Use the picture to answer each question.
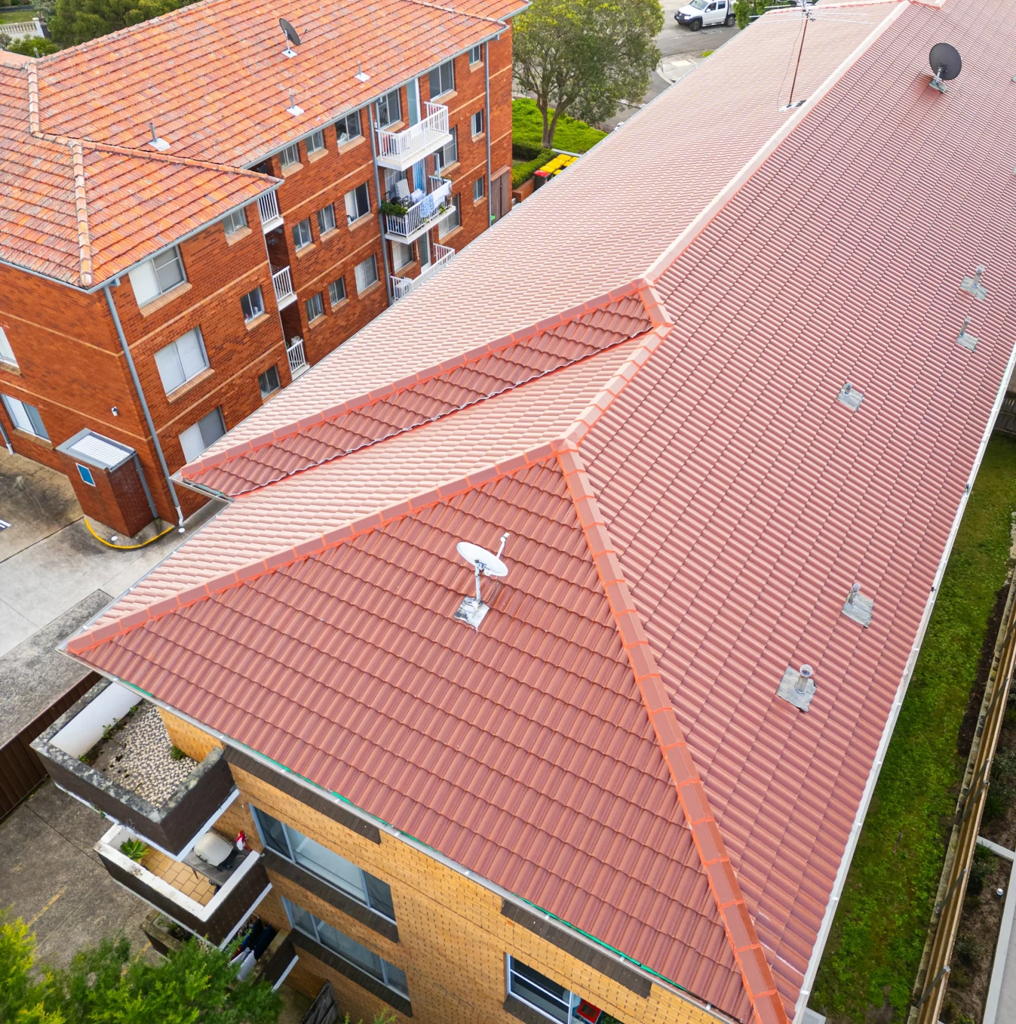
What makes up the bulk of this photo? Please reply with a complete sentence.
For the most part, this view shows buildings.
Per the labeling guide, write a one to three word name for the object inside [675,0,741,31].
truck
